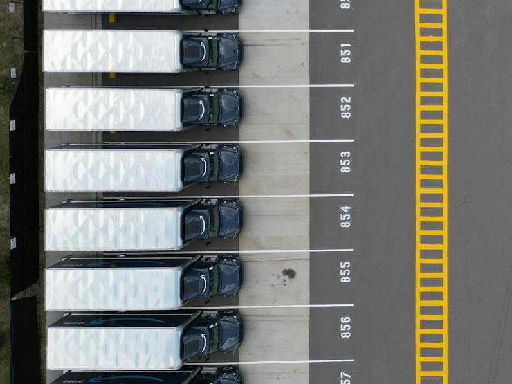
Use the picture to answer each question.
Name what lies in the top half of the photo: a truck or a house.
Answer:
truck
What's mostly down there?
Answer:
paved ground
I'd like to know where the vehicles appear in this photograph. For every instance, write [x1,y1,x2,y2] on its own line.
[44,253,245,310]
[42,0,244,16]
[45,143,246,191]
[42,28,244,74]
[45,309,246,369]
[48,364,246,384]
[45,85,246,131]
[44,199,245,251]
